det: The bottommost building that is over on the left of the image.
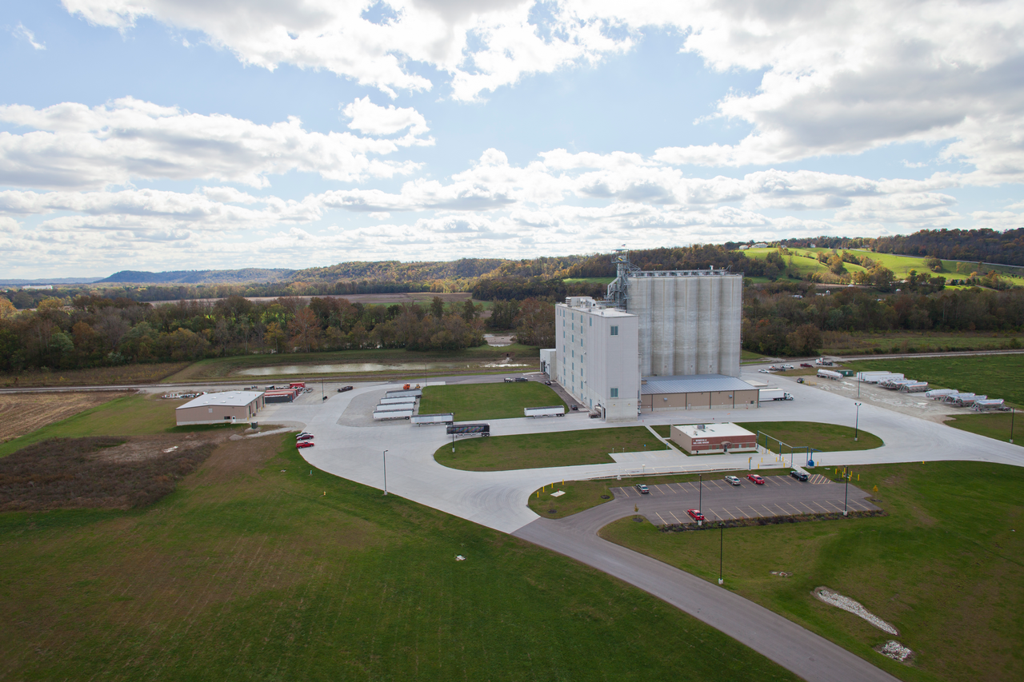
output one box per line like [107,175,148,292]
[174,391,266,424]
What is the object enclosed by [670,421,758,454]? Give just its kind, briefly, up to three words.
building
